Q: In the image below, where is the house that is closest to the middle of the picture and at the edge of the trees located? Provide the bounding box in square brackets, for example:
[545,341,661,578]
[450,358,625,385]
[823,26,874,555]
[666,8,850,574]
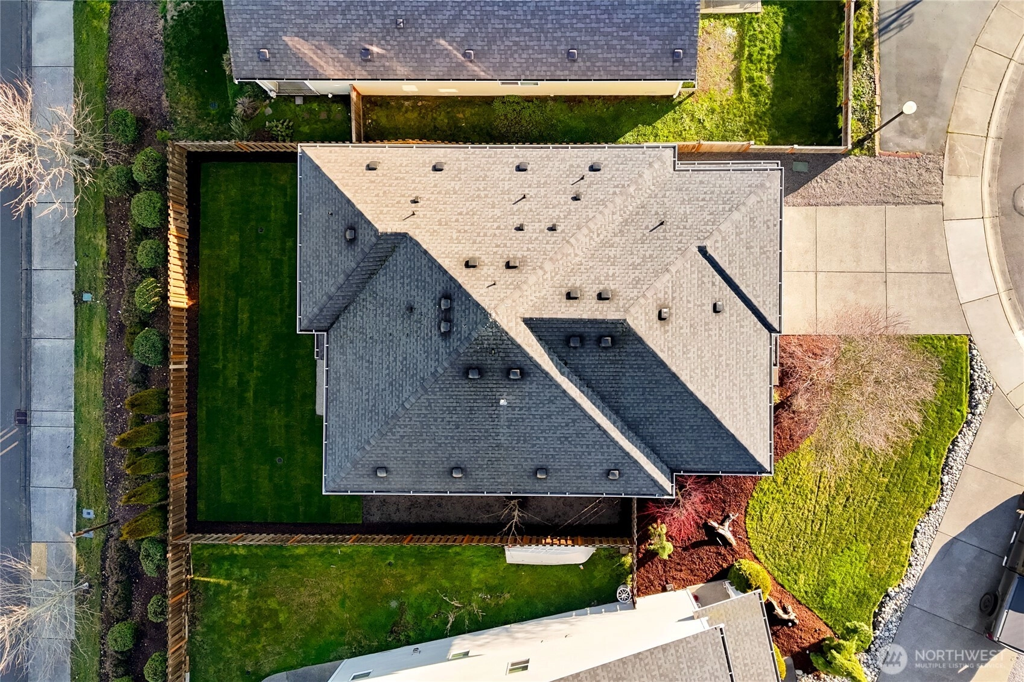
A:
[297,145,783,497]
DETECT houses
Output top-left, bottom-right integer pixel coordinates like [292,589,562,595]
[219,0,703,103]
[297,145,783,497]
[262,580,794,682]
